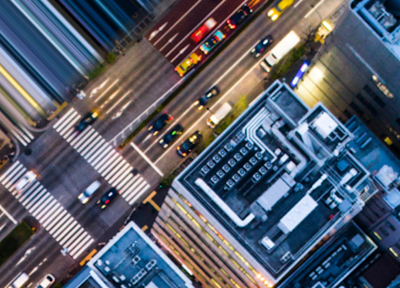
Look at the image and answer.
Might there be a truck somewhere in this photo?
Yes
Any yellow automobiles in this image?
Yes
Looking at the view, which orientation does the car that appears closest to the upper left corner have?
at an angle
